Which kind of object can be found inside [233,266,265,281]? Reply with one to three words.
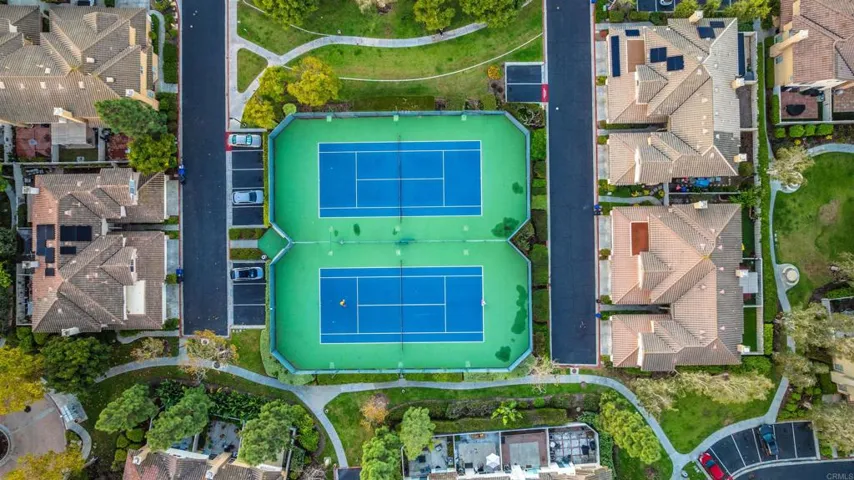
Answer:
car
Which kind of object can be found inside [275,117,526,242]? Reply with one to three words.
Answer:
tennis court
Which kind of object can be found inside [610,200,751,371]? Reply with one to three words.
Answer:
house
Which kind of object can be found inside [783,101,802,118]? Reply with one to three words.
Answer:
umbrella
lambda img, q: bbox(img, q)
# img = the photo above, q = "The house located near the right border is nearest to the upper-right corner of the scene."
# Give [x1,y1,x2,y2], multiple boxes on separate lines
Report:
[769,0,854,90]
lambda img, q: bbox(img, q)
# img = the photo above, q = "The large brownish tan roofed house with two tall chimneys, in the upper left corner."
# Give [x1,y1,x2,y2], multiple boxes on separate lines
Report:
[0,6,162,146]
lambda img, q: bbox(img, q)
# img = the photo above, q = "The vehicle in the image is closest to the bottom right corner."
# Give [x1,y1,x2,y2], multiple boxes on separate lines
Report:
[756,422,782,459]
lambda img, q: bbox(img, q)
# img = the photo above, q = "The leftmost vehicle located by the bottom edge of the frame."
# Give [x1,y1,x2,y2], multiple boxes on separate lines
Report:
[701,452,730,480]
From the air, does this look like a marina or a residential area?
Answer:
residential area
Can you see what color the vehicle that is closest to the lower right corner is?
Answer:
blue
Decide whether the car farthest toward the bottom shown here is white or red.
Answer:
red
